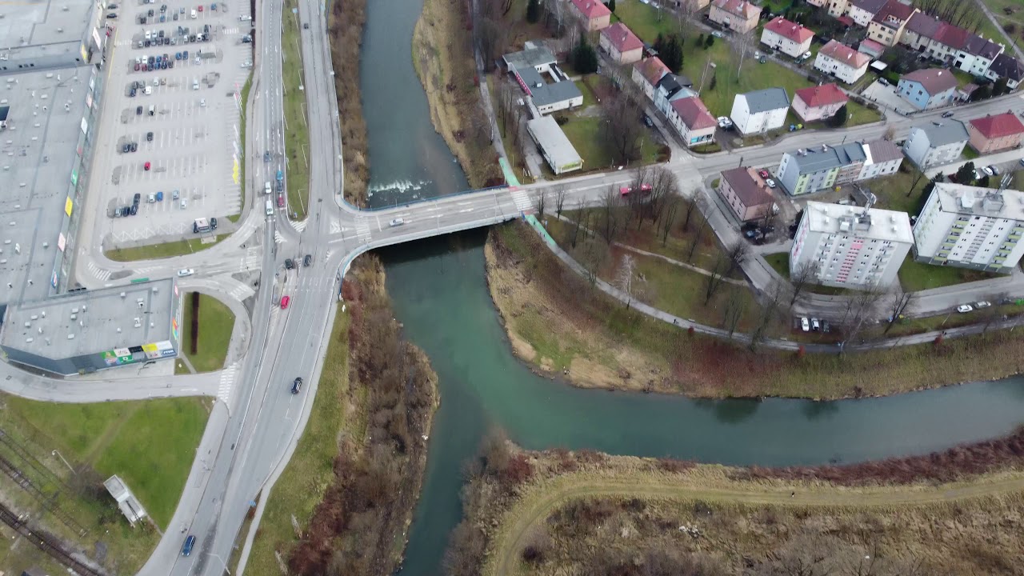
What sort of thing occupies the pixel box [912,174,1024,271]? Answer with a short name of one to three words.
building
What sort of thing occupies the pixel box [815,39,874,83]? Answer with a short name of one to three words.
house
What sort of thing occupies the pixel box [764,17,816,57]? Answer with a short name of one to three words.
house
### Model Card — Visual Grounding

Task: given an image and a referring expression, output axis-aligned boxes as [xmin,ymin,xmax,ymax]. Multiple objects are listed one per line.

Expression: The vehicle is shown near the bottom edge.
[182,535,197,556]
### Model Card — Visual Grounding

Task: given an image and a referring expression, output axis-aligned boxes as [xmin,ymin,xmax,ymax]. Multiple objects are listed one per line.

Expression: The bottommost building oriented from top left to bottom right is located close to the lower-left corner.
[103,474,153,530]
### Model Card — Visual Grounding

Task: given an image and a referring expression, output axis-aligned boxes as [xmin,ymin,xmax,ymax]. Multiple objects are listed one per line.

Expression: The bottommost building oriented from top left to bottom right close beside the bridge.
[527,114,582,178]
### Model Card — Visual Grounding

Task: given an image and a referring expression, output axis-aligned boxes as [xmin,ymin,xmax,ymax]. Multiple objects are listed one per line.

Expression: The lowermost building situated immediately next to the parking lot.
[0,277,184,380]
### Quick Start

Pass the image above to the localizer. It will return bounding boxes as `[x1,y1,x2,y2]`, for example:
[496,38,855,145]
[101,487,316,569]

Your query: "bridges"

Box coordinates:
[335,182,522,288]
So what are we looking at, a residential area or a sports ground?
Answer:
residential area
